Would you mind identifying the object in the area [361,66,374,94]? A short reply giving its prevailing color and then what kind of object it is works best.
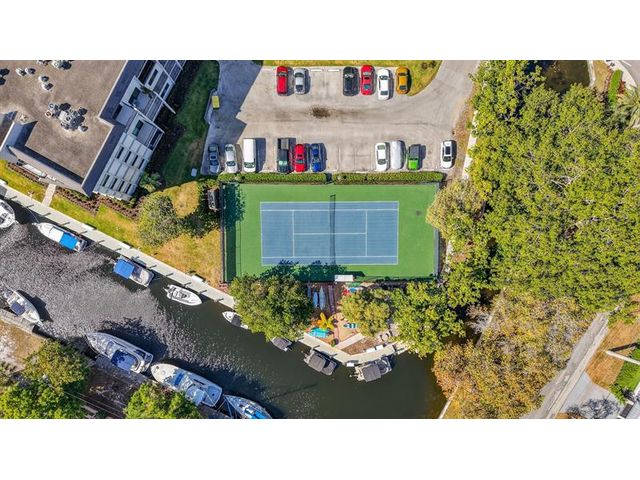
red vehicle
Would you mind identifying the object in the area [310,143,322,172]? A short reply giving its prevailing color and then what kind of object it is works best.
blue vehicle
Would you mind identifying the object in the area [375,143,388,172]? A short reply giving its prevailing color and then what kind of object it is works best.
white vehicle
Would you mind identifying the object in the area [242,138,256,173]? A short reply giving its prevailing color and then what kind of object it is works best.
white vehicle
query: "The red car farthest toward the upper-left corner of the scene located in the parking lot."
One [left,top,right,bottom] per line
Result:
[276,66,289,95]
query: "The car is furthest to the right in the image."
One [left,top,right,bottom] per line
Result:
[440,141,454,169]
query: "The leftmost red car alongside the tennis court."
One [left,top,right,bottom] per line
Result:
[294,144,307,173]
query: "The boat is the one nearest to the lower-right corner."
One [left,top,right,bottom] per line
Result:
[352,356,392,380]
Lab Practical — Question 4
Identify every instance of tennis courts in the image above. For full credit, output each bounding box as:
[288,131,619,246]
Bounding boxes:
[224,184,434,283]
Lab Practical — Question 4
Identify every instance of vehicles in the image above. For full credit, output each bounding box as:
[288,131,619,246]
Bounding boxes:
[361,66,374,94]
[342,67,356,96]
[276,66,289,95]
[207,144,221,173]
[242,138,256,173]
[375,143,388,172]
[276,138,290,173]
[310,143,322,172]
[396,68,409,94]
[377,69,390,100]
[294,144,307,173]
[440,141,454,169]
[406,142,420,171]
[225,144,238,173]
[293,69,306,96]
